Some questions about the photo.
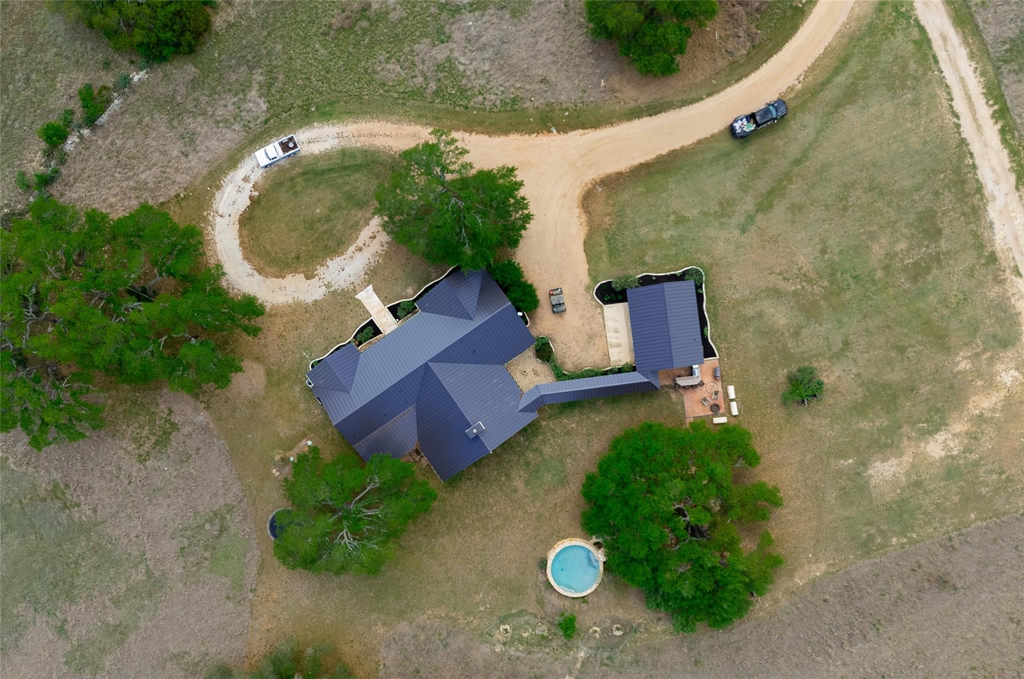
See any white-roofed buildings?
No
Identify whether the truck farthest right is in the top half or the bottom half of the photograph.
top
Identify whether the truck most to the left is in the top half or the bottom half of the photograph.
top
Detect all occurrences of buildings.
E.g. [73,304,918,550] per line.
[304,266,539,481]
[627,280,703,371]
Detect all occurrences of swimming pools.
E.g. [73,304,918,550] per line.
[546,536,604,596]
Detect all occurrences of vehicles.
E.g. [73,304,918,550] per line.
[549,286,567,314]
[731,97,789,136]
[252,132,299,166]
